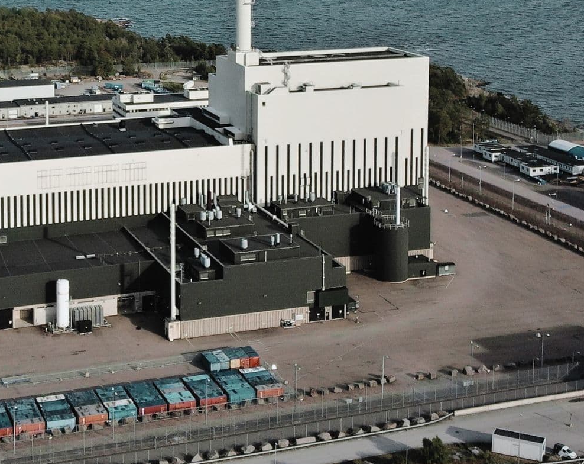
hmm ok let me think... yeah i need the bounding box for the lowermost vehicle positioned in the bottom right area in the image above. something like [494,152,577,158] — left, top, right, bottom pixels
[549,440,580,460]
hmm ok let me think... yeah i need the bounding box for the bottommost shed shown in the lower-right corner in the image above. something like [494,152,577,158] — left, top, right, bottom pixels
[491,425,544,460]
